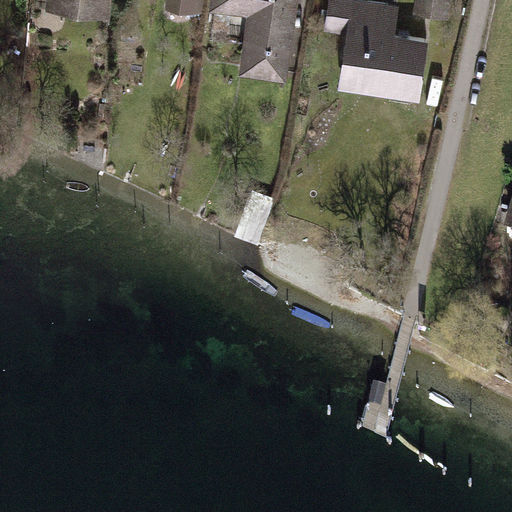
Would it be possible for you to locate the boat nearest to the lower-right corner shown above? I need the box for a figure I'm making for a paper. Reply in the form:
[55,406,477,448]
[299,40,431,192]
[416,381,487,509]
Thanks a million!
[428,390,454,406]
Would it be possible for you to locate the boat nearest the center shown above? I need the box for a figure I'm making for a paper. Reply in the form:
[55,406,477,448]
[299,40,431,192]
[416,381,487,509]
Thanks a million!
[242,264,280,296]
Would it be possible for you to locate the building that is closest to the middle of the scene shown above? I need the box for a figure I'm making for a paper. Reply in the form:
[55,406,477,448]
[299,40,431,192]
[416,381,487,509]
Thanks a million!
[234,188,273,244]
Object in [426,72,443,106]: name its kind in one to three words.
camper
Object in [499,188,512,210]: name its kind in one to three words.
vehicle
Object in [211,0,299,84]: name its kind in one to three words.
house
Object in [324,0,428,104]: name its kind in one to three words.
house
